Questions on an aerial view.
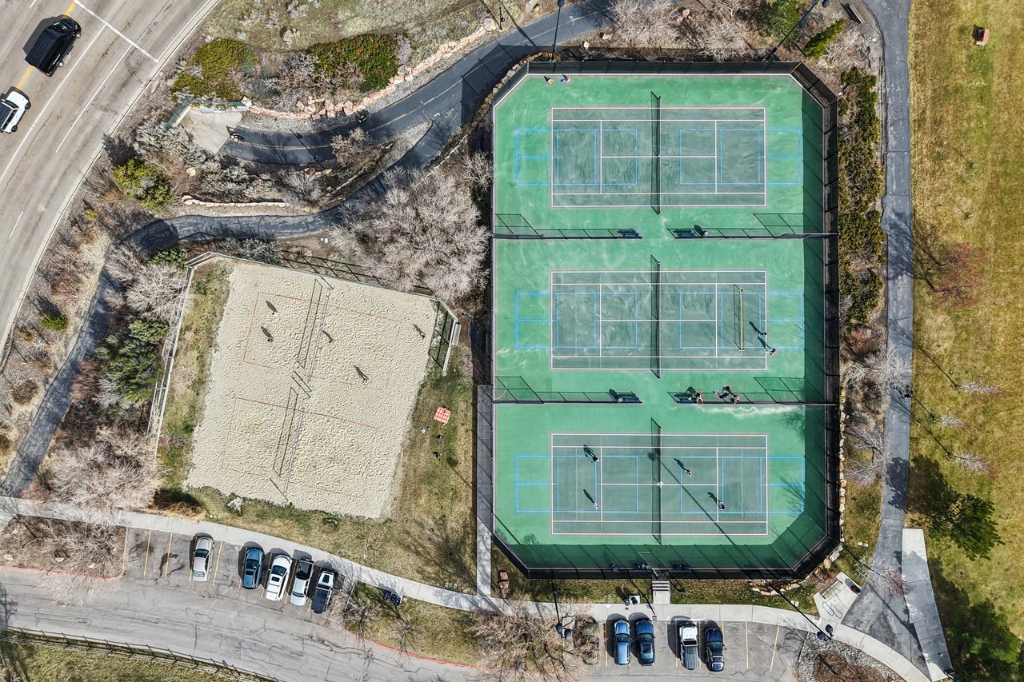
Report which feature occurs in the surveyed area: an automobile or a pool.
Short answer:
automobile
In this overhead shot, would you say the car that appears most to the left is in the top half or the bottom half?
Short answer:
top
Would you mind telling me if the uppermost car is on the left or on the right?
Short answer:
left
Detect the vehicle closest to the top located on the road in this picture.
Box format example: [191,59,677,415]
[32,17,79,68]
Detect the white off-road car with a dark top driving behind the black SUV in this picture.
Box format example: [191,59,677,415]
[0,89,28,131]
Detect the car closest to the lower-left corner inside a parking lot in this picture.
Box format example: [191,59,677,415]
[187,538,212,584]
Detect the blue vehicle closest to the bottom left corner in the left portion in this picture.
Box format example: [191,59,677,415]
[238,550,262,593]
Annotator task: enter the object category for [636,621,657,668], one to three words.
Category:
car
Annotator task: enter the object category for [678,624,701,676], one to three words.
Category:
car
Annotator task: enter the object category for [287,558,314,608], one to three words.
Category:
vehicle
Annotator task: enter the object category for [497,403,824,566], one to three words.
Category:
tennis court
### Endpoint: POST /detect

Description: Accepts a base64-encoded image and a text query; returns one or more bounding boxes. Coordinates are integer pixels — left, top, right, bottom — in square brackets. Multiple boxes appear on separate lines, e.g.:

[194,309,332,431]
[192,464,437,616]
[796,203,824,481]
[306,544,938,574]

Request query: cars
[238,550,262,593]
[614,623,633,667]
[636,621,657,668]
[262,556,292,604]
[0,89,28,131]
[306,571,336,620]
[678,624,701,676]
[703,627,725,673]
[32,17,79,68]
[187,538,212,584]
